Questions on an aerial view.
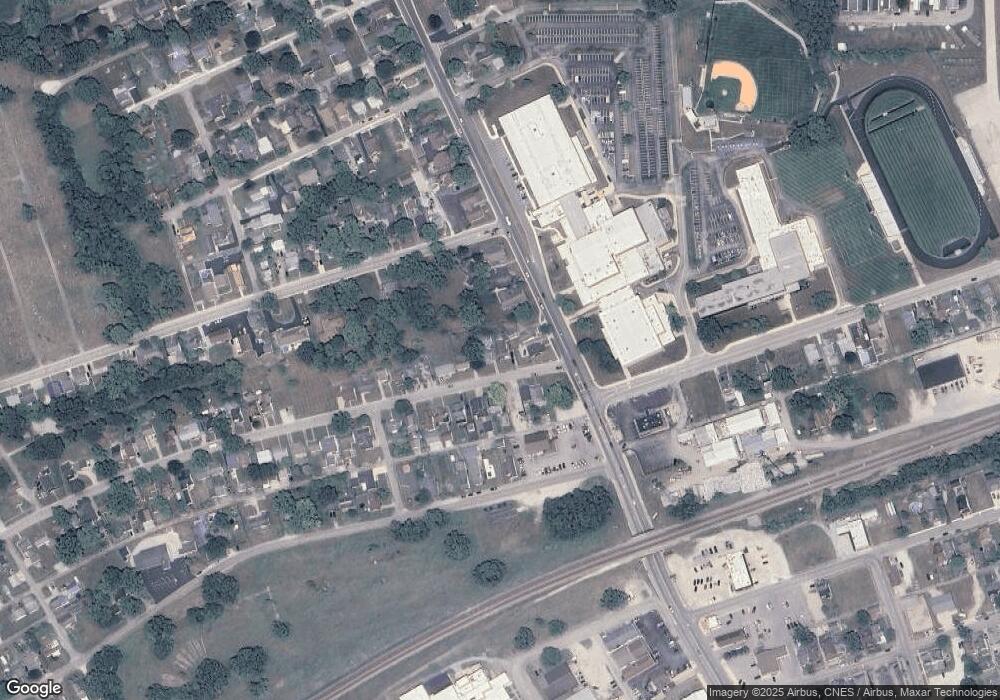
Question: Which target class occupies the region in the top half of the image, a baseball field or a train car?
baseball field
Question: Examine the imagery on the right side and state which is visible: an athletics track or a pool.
athletics track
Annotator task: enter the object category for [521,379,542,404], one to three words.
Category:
house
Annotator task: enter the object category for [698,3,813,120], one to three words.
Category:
baseball field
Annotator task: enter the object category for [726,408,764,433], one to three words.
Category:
shed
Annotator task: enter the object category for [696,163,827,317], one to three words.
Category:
building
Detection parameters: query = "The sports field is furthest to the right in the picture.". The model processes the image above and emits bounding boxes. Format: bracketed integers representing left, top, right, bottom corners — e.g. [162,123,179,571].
[866,85,980,260]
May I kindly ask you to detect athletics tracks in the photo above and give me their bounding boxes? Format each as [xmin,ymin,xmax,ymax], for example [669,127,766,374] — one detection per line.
[826,76,998,268]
